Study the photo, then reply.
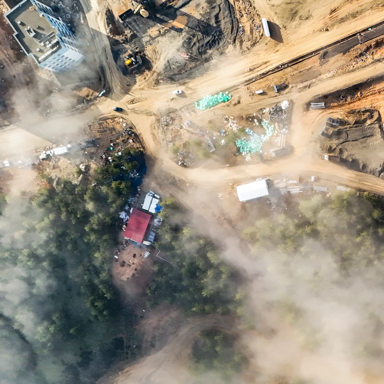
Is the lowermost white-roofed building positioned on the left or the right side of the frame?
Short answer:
right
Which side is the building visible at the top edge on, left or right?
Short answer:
left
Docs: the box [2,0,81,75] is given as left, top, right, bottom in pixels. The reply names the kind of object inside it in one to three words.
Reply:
building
